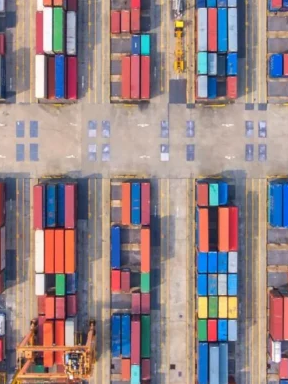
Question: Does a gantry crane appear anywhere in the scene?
Yes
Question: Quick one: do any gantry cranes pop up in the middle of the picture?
No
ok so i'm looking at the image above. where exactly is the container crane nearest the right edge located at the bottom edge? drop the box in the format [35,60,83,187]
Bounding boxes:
[17,319,98,382]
